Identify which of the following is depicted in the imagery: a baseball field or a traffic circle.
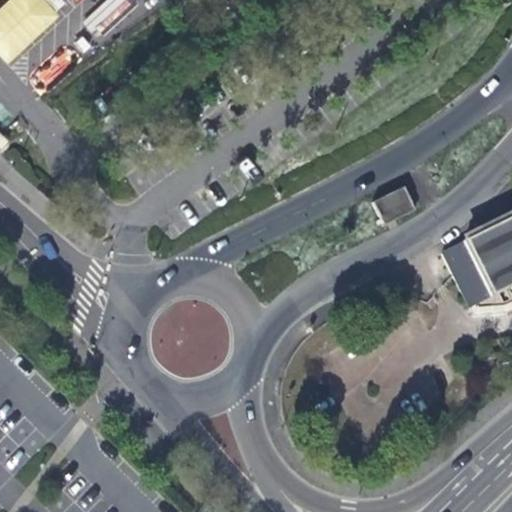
traffic circle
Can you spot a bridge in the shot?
No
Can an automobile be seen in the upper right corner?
Yes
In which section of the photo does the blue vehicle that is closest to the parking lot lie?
left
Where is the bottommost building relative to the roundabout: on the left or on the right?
to the right of it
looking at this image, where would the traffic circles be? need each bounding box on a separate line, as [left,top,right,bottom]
[96,251,264,500]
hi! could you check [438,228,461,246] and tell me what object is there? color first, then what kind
white car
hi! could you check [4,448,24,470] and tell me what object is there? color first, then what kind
white car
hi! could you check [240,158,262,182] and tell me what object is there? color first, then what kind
white vehicle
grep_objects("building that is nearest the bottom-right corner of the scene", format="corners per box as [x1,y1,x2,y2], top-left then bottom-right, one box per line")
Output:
[442,208,512,307]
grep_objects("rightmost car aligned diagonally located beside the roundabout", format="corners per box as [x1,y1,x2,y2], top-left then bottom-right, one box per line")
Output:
[206,238,228,256]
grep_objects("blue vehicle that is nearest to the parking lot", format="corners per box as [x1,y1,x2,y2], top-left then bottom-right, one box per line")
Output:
[38,236,58,260]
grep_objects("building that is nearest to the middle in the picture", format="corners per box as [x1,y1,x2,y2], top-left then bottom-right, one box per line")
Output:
[372,186,416,228]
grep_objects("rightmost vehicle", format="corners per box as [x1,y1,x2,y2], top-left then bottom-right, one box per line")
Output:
[478,79,500,98]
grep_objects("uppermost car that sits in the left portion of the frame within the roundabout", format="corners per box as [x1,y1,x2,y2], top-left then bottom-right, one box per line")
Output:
[156,267,176,288]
